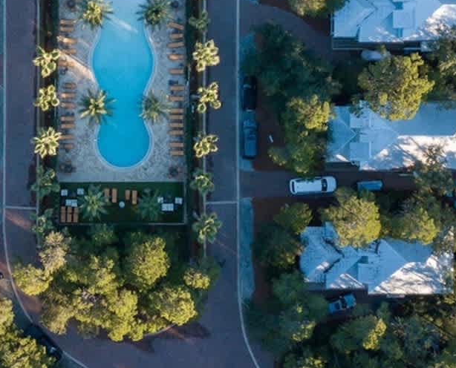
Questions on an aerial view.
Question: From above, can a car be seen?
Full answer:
Yes, this view includes a car.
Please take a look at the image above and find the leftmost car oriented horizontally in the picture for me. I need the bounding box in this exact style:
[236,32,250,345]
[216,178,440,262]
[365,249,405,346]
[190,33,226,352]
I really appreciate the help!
[290,176,336,196]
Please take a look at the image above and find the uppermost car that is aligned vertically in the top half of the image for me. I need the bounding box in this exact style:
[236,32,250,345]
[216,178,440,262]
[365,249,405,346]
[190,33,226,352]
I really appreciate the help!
[241,72,260,113]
